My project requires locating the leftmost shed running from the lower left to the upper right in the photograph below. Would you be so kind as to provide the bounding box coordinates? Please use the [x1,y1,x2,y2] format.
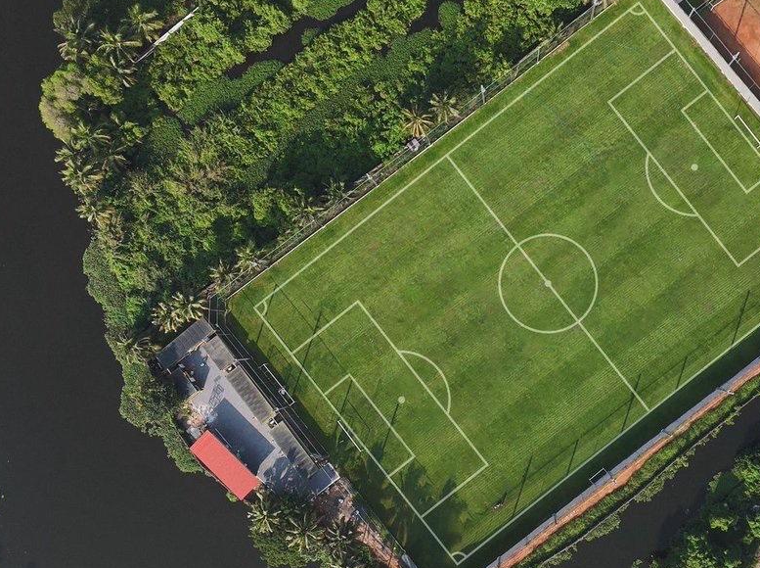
[157,318,218,371]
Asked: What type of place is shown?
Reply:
sports ground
